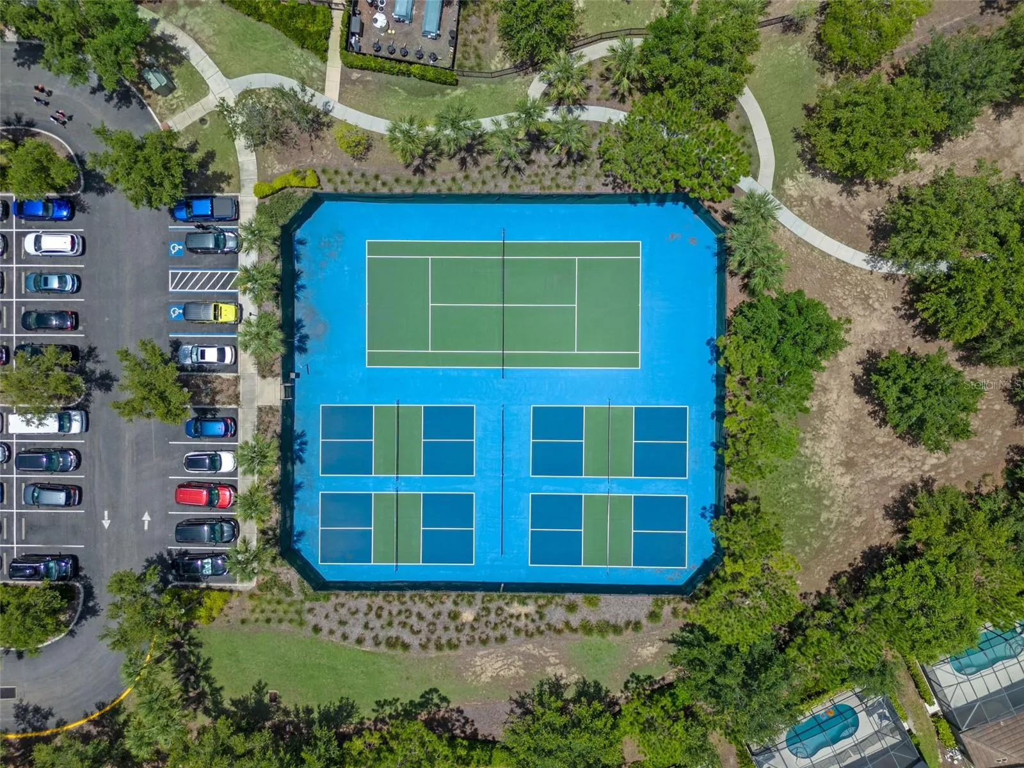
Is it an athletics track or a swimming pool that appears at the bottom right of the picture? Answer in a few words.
swimming pool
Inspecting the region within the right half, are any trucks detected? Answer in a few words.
No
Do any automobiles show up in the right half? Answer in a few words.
No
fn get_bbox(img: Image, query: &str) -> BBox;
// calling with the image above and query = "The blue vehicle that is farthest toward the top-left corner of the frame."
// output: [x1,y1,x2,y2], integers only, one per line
[16,196,77,223]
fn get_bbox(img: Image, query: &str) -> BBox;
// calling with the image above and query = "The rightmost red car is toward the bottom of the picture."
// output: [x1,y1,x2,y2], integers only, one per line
[175,482,239,510]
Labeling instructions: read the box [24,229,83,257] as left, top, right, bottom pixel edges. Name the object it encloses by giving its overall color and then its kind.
white car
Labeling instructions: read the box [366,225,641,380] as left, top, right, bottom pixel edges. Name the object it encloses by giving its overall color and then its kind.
green tennis court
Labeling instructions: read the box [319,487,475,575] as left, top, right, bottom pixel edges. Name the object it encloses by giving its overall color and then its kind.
blue sports court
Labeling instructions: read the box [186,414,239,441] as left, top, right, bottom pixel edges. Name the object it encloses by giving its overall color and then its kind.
blue car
